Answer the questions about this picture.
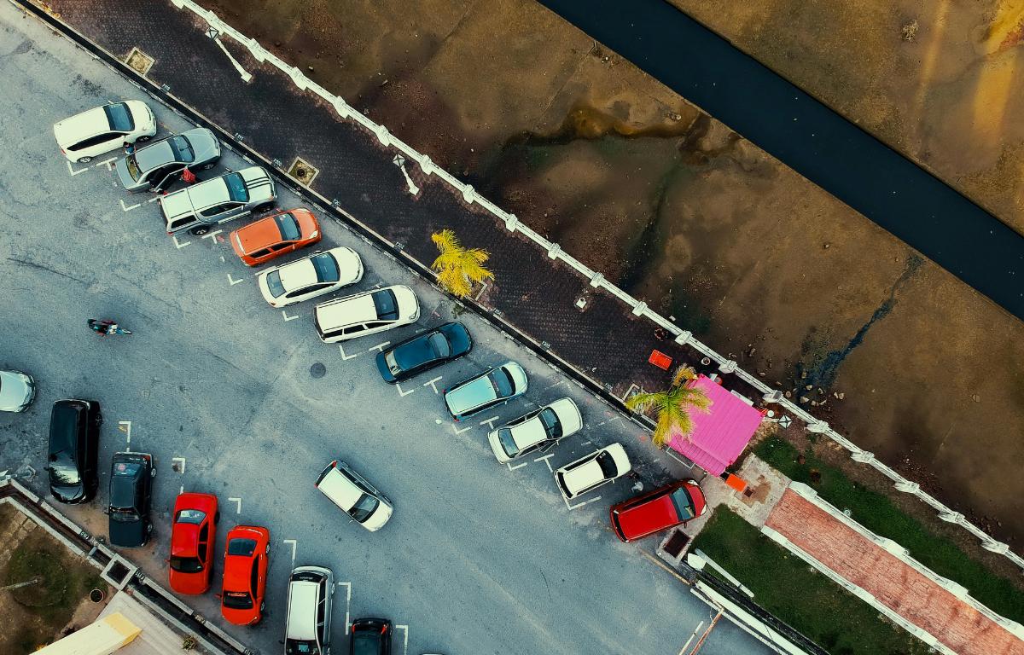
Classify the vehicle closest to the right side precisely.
car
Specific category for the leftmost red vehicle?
automobile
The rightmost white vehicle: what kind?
automobile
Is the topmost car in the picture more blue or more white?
white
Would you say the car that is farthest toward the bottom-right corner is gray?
No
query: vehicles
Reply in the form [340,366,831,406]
[0,367,39,411]
[163,493,220,595]
[280,566,335,655]
[351,619,394,655]
[54,102,157,162]
[554,443,631,500]
[213,526,271,625]
[102,453,156,547]
[158,169,277,238]
[116,131,221,195]
[375,323,472,387]
[312,460,393,533]
[609,478,704,544]
[44,400,104,506]
[231,207,320,267]
[442,360,526,422]
[313,284,419,344]
[486,398,582,466]
[81,315,130,333]
[259,247,361,310]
